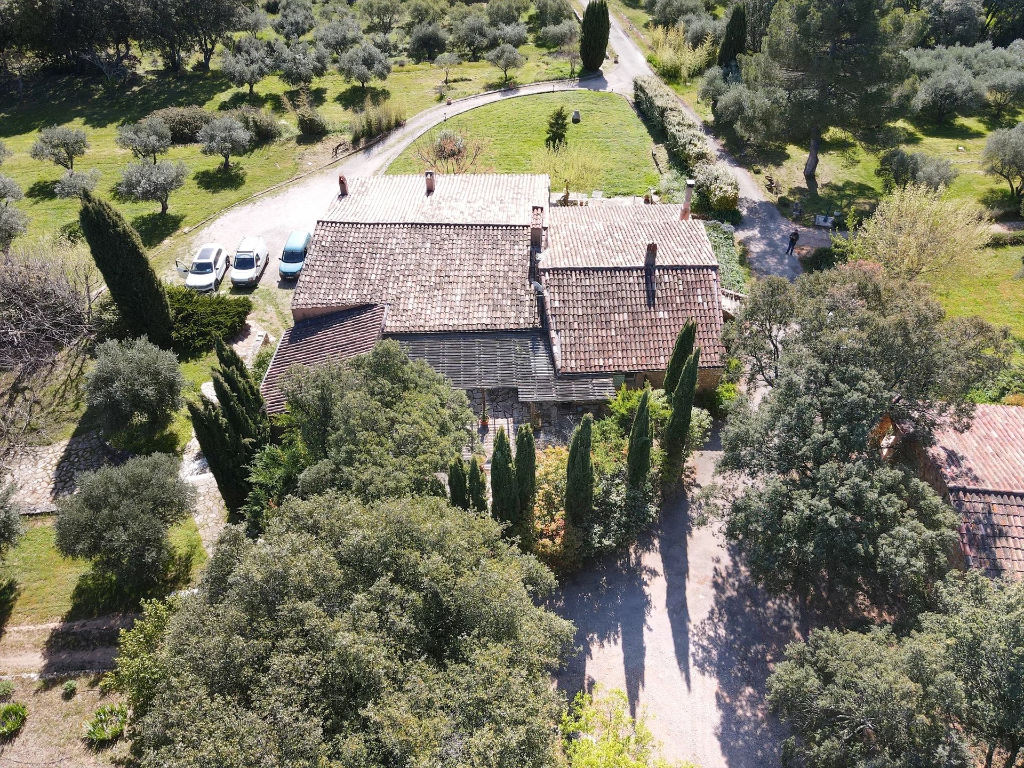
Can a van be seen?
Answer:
Yes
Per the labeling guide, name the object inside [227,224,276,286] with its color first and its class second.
white van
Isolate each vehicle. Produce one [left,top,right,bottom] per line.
[172,244,233,295]
[275,220,312,278]
[227,224,276,286]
